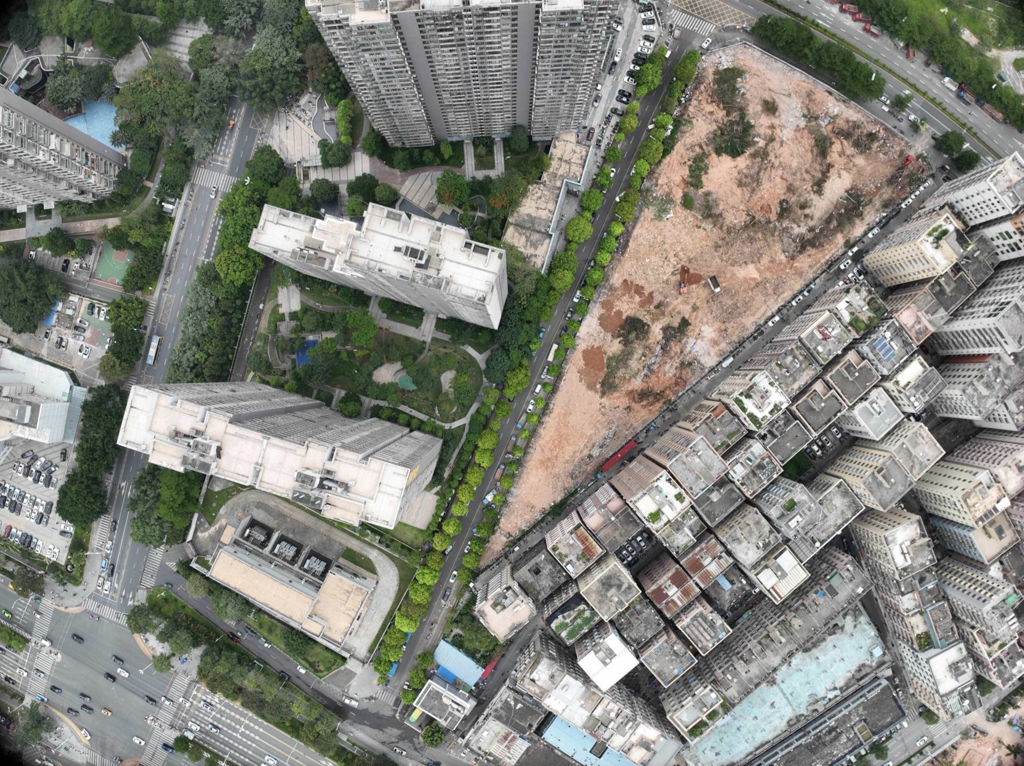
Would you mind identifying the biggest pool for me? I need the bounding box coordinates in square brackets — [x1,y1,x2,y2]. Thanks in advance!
[70,100,125,150]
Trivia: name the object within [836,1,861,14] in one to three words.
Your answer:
vehicle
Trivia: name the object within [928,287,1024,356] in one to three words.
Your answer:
building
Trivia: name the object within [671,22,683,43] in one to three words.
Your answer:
vehicle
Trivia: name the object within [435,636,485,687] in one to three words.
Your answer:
shed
